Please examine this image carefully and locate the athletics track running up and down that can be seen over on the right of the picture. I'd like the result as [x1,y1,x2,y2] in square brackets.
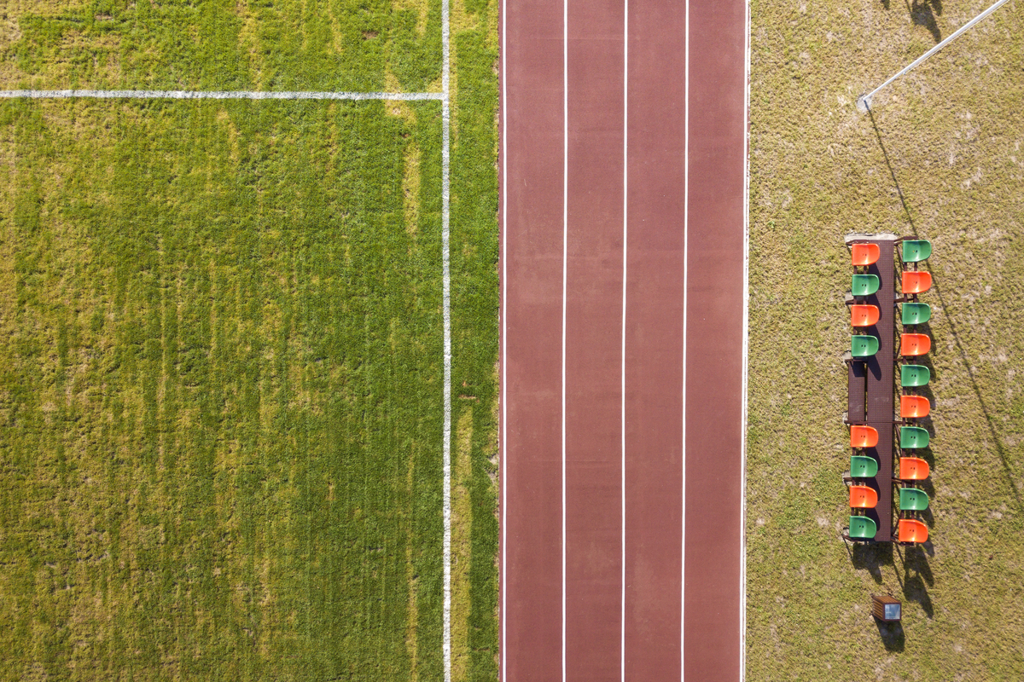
[499,0,750,682]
